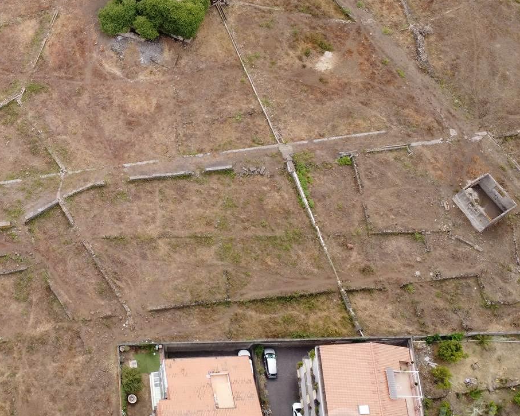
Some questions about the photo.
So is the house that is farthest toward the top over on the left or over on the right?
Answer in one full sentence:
The house that is farthest toward the top appears in the right half of the scene.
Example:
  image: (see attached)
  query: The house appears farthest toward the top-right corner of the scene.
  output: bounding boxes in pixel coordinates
[452,174,517,230]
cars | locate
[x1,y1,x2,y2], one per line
[237,349,256,376]
[261,349,279,379]
[289,402,300,416]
